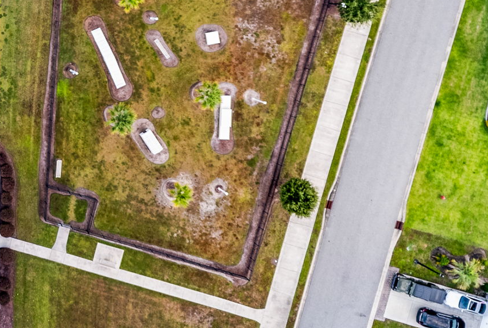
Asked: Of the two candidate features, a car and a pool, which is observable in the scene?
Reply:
car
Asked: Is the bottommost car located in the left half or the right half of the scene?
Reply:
right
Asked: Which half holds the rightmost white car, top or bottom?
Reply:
bottom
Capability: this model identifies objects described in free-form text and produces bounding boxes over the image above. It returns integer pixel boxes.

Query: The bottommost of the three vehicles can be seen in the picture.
[418,307,466,328]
